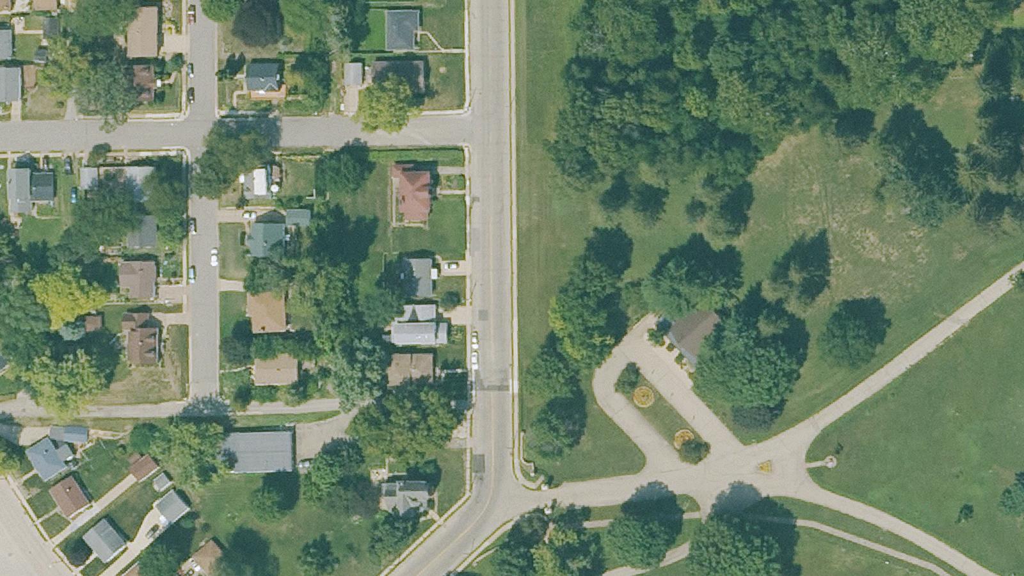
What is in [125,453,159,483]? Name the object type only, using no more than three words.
building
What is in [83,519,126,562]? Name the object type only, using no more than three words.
house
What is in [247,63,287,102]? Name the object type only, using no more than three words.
house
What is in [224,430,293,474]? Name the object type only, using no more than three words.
building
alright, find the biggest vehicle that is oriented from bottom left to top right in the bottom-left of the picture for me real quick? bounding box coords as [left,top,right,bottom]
[146,524,160,539]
